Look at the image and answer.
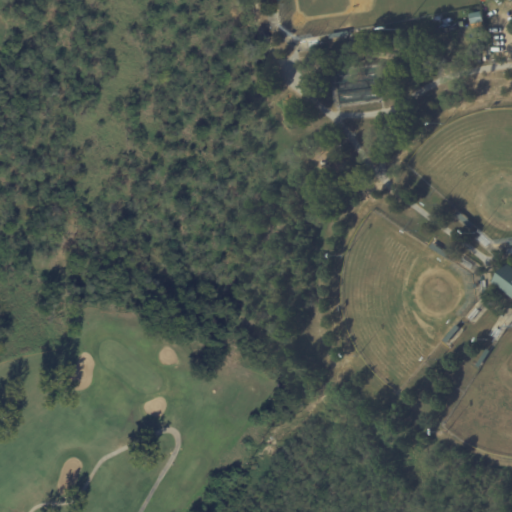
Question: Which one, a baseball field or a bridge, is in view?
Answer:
baseball field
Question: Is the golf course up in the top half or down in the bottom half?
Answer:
bottom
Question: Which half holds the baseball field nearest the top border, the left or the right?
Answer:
right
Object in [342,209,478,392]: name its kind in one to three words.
baseball field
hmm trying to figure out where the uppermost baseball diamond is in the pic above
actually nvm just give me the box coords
[280,0,482,36]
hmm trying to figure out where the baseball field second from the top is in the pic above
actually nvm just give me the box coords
[408,108,512,244]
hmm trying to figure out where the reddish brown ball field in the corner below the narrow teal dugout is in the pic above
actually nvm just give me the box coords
[444,323,512,458]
